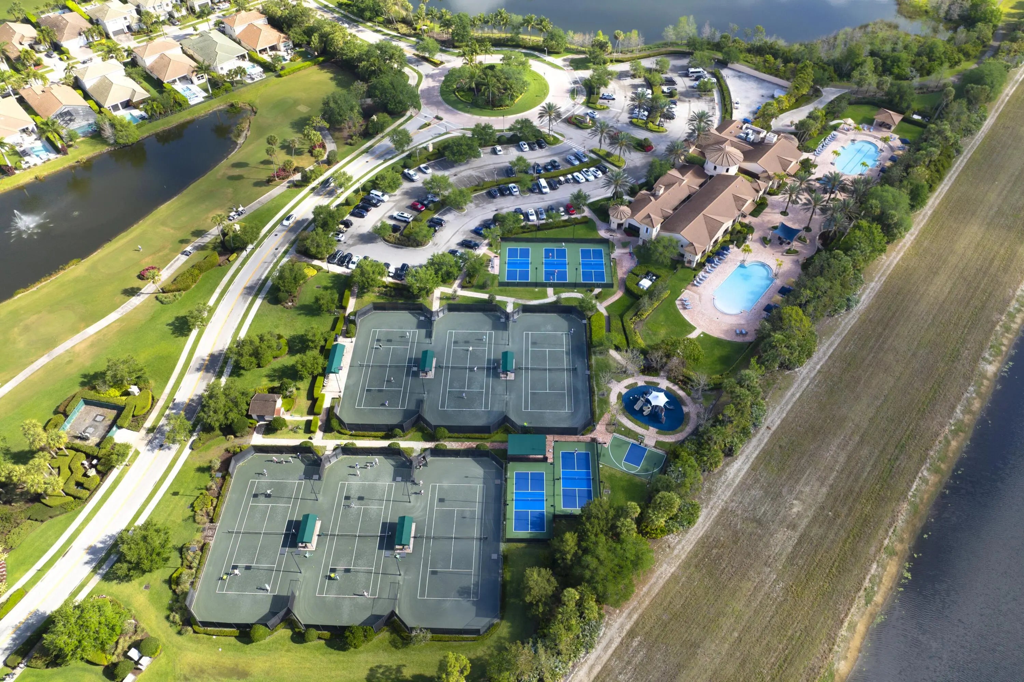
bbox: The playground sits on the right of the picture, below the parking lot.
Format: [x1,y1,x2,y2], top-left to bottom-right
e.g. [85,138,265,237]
[614,376,697,437]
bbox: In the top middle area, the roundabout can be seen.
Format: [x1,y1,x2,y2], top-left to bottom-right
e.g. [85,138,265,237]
[417,53,570,130]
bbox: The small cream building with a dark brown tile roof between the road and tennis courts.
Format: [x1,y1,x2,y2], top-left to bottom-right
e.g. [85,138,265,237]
[248,393,288,426]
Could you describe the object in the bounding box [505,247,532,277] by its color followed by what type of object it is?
blue sports court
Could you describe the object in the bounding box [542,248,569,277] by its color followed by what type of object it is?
blue sports court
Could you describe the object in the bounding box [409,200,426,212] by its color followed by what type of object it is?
red vehicle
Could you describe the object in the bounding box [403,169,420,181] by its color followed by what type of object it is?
white vehicle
